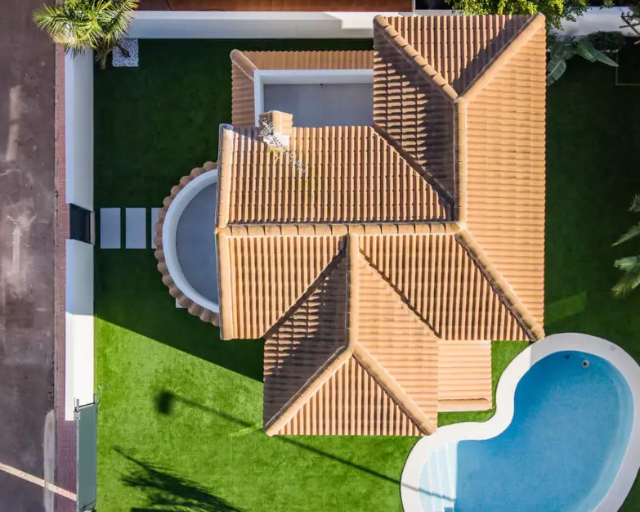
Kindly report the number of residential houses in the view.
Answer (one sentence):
The photo contains exactly 1 residential house.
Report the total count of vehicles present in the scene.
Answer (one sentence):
The picture shows no vehicles.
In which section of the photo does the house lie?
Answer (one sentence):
The house is in the center part of the image.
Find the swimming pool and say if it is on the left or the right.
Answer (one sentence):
The swimming pool sits on the right side.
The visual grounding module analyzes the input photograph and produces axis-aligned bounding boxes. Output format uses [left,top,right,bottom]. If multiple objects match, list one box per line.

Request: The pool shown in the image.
[400,333,640,512]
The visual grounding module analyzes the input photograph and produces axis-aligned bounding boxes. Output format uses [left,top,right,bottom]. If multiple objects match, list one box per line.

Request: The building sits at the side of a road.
[152,9,553,443]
